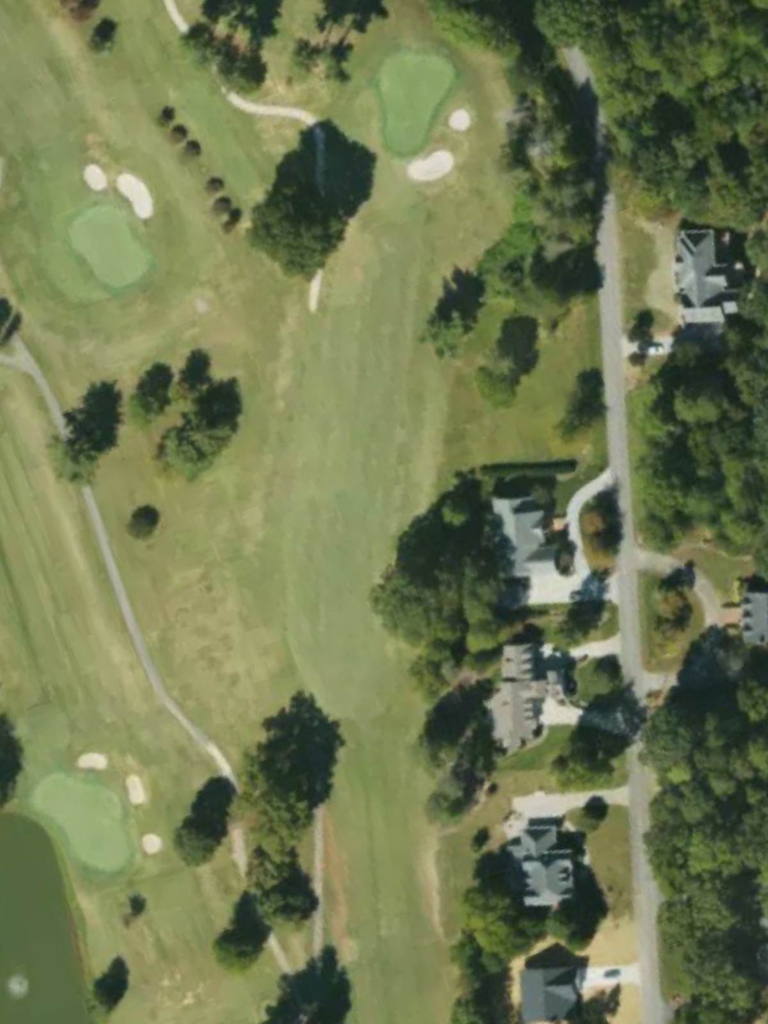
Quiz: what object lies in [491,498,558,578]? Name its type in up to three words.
house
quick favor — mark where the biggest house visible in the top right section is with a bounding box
[674,229,730,323]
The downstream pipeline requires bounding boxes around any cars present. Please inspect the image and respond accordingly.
[605,970,620,977]
[648,345,664,352]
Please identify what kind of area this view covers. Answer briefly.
golf course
